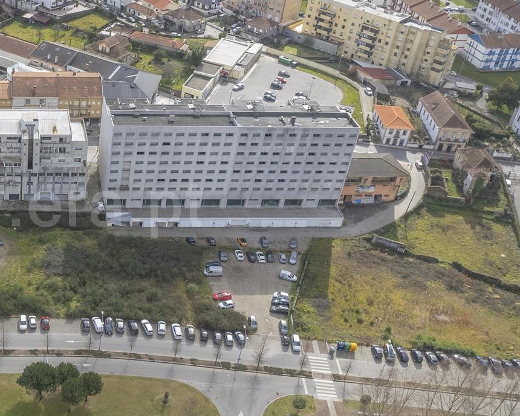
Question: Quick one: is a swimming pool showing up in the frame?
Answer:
No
